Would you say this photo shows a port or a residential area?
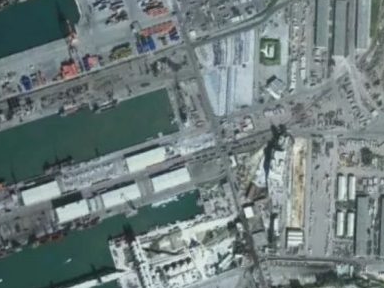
port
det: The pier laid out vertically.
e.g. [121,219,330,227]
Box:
[109,235,133,288]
